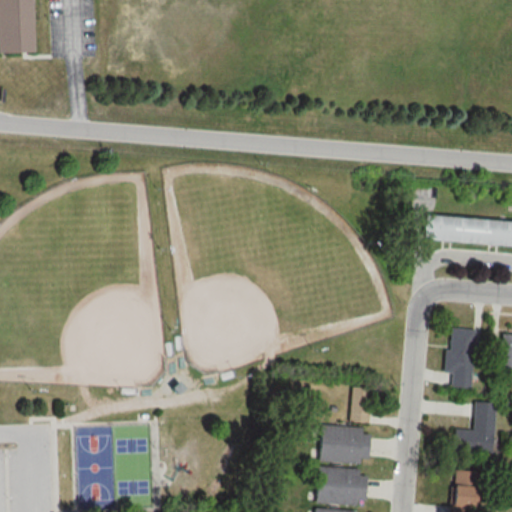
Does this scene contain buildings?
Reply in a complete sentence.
Yes, there is a building in the image.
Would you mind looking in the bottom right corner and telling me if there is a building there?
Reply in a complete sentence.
Yes, the scene does show a building in the bottom right corner.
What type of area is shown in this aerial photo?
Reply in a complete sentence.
The picture captures a sports ground.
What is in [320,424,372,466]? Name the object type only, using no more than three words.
house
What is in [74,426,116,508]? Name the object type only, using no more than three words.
basketball court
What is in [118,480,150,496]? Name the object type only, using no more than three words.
sports court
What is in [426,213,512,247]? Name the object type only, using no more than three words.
building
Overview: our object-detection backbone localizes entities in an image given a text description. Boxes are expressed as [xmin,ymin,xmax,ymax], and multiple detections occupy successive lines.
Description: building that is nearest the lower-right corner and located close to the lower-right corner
[450,470,482,510]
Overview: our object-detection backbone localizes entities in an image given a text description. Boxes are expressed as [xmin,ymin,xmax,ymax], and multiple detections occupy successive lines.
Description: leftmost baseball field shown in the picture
[0,172,162,387]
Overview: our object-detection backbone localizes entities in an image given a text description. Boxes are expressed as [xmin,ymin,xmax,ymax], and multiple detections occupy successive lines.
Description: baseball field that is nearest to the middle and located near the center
[162,162,390,372]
